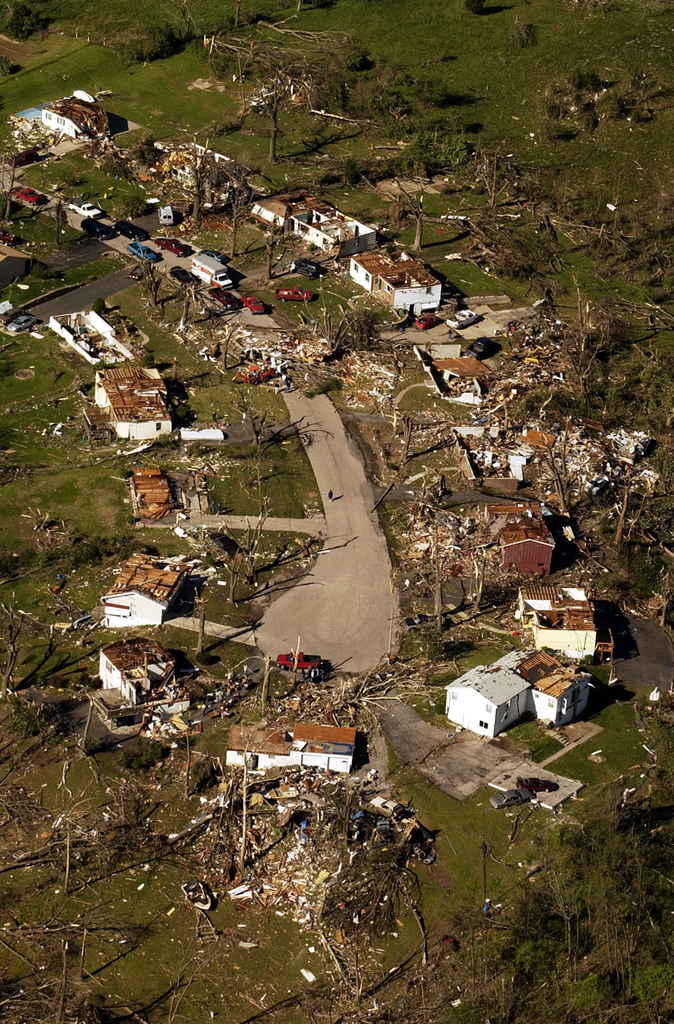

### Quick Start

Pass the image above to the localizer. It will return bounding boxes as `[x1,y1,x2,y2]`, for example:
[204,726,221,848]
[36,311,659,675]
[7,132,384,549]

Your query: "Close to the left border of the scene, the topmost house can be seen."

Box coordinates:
[14,93,105,138]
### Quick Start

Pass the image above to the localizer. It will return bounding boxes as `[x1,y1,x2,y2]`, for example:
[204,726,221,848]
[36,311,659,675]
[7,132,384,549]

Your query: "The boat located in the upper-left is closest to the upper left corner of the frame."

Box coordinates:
[68,85,93,101]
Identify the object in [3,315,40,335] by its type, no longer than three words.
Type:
car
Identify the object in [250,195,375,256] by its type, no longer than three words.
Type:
house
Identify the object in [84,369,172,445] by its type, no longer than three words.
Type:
house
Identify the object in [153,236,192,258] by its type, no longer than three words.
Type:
truck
